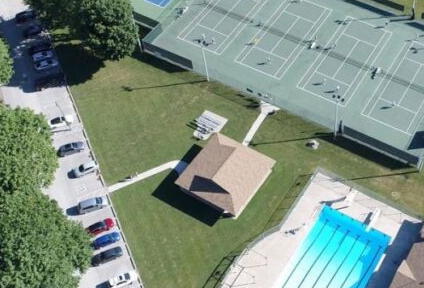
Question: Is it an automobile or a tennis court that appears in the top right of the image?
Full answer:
It is a tennis court that can be seen in the top right of the image.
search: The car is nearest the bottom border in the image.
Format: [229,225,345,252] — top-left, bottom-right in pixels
[107,272,138,288]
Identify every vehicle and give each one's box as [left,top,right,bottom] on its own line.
[107,272,138,288]
[15,12,37,23]
[91,234,120,253]
[71,162,98,180]
[58,140,84,156]
[26,42,50,56]
[20,27,44,39]
[30,52,54,64]
[49,116,72,130]
[87,220,116,238]
[94,248,123,268]
[77,197,108,217]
